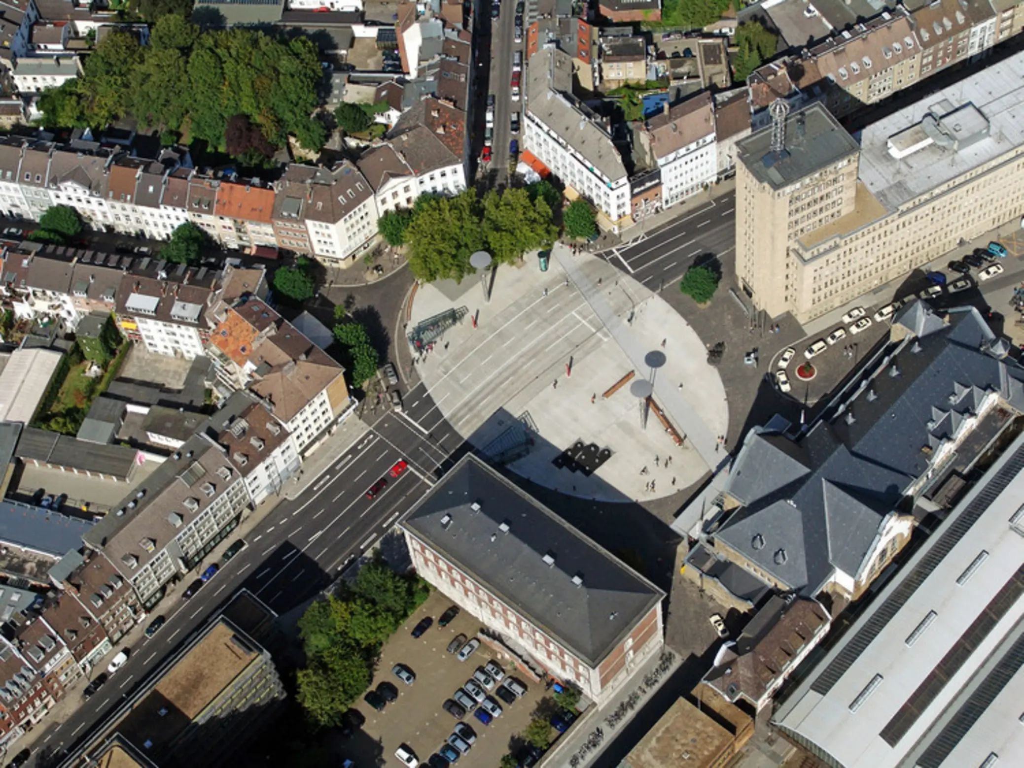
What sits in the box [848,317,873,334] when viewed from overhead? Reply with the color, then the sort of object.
white car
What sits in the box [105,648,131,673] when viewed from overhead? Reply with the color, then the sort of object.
white vehicle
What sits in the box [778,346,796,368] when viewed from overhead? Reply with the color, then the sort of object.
white car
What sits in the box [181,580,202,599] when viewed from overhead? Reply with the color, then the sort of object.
black car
